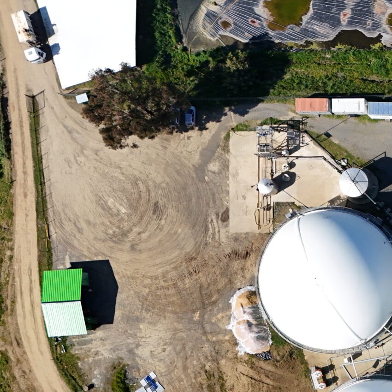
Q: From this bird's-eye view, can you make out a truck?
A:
Yes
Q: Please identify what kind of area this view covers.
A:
industrial area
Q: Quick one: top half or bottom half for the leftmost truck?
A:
top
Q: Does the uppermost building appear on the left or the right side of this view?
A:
left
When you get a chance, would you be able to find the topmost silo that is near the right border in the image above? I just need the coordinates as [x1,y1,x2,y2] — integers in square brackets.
[339,165,379,201]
